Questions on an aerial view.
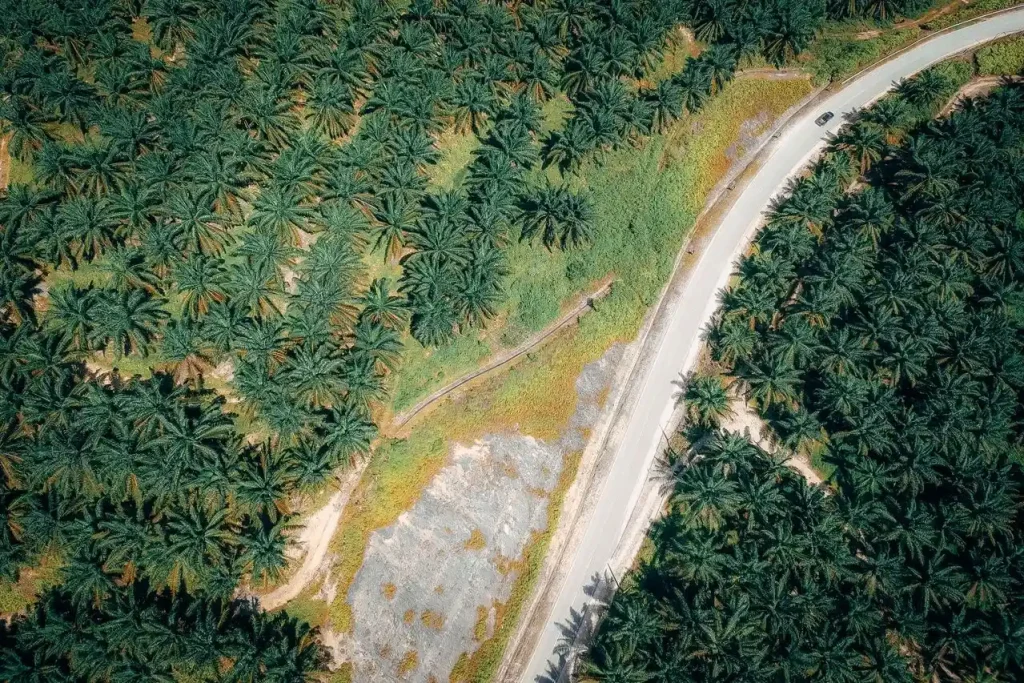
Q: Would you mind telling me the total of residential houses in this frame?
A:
zero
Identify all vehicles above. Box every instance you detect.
[817,109,836,126]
